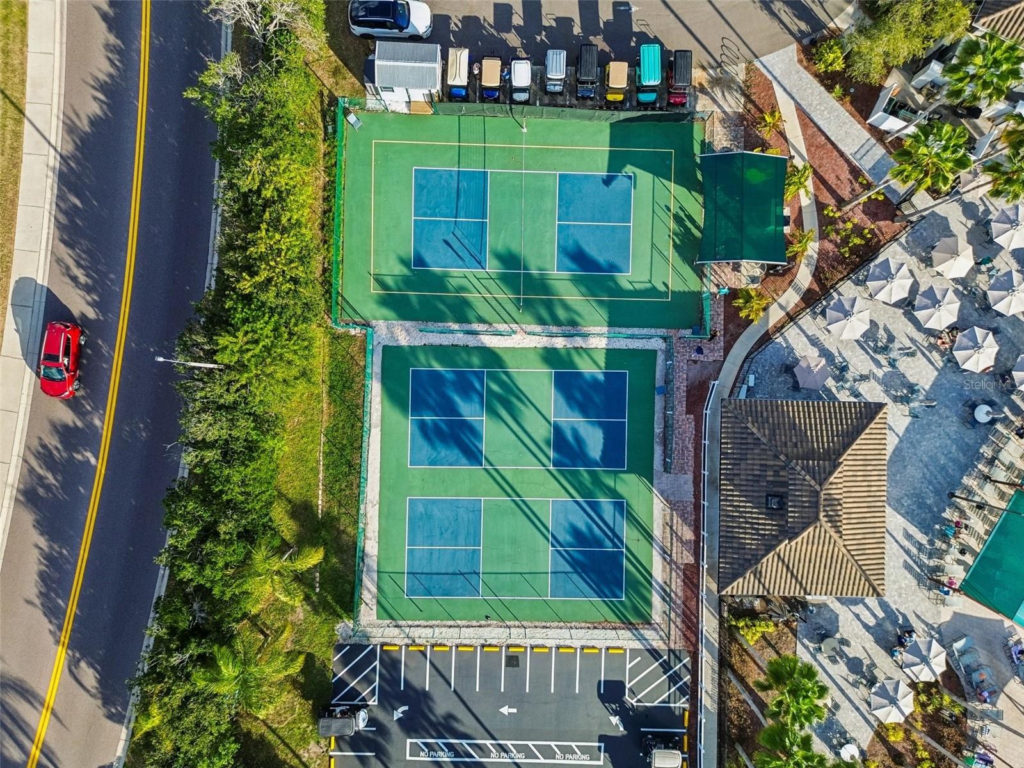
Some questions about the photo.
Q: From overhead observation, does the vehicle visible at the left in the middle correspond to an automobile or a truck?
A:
automobile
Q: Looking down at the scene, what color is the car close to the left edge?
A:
red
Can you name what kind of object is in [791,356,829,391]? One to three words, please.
umbrella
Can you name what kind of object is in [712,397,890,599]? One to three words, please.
building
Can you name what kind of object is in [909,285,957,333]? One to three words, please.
umbrella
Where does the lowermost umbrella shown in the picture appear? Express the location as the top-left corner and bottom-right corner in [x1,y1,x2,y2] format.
[866,678,911,721]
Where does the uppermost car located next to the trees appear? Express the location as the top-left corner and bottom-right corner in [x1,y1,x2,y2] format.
[349,0,429,40]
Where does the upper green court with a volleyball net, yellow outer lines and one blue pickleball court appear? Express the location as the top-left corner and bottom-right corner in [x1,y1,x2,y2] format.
[339,108,703,327]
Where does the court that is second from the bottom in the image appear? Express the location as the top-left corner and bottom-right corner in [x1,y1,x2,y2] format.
[379,345,658,485]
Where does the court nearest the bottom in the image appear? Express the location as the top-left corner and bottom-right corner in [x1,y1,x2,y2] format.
[377,483,655,624]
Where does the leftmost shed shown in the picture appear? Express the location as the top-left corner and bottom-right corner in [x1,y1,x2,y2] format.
[366,37,443,117]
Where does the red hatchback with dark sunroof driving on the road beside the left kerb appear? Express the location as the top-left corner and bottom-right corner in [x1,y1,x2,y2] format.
[38,324,87,398]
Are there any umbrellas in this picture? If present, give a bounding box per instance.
[909,285,957,333]
[864,259,911,307]
[866,678,911,721]
[791,356,829,391]
[945,326,995,373]
[979,206,1024,251]
[898,636,944,680]
[925,235,971,279]
[940,165,982,199]
[820,298,864,341]
[977,269,1024,314]
[992,348,1024,391]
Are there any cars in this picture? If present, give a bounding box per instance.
[38,324,87,398]
[349,0,429,40]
